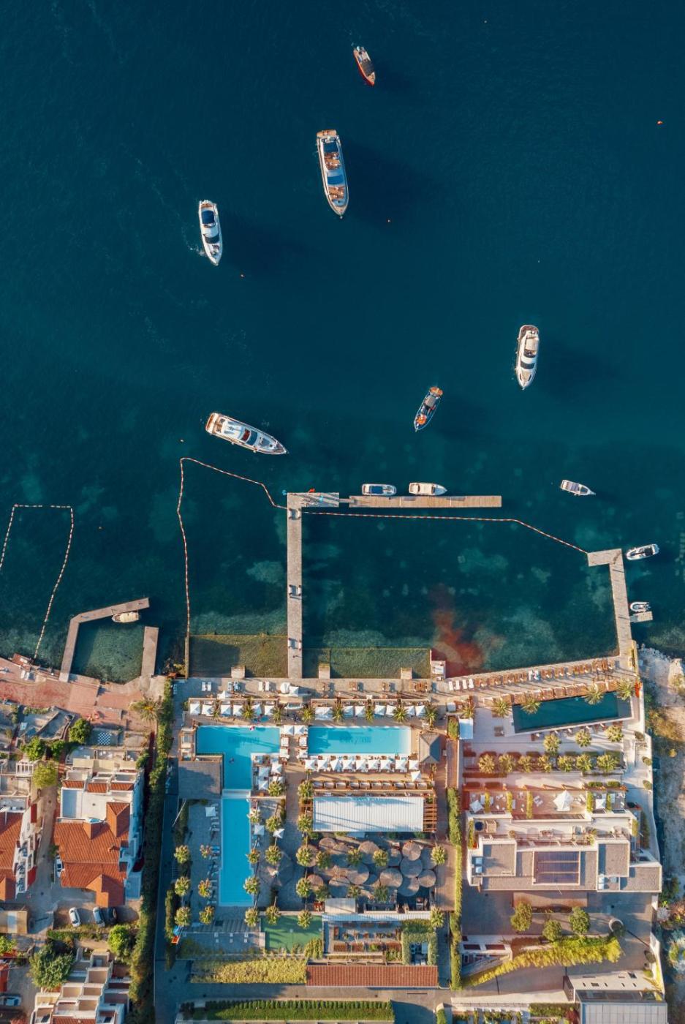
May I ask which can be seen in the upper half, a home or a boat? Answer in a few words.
boat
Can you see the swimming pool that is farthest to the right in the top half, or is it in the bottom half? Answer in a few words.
bottom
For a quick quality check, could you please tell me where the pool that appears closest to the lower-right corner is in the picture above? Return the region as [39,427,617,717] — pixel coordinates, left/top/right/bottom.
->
[511,690,634,732]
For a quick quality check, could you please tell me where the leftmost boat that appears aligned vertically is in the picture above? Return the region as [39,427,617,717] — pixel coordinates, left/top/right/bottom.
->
[199,203,222,266]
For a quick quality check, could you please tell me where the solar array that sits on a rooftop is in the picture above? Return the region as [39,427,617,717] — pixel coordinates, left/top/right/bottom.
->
[532,850,581,884]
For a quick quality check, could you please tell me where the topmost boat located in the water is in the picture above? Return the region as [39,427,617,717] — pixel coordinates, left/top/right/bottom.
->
[355,45,375,88]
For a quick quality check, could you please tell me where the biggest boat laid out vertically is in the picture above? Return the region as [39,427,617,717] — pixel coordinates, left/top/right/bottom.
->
[315,133,349,218]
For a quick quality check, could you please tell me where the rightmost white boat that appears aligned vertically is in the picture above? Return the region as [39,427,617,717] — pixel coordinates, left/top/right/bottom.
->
[514,326,538,389]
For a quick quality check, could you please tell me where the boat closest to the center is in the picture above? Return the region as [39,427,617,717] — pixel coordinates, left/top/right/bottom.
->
[362,483,397,495]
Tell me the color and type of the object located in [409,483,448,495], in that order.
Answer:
white boat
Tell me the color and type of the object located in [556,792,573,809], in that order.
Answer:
white umbrella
